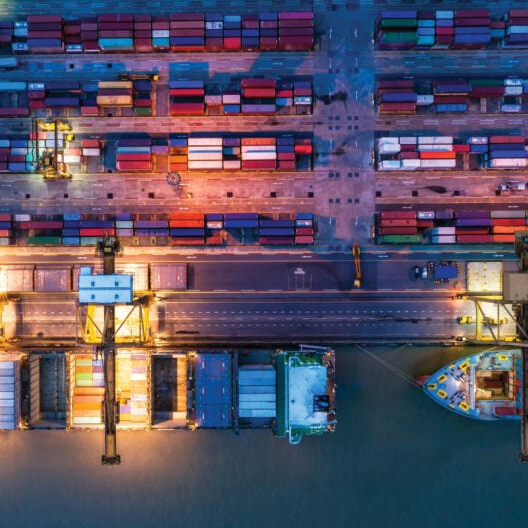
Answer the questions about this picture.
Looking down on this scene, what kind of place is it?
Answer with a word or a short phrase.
port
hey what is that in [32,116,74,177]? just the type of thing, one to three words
container crane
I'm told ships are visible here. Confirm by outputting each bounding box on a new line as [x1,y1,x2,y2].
[416,349,521,422]
[0,345,336,444]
